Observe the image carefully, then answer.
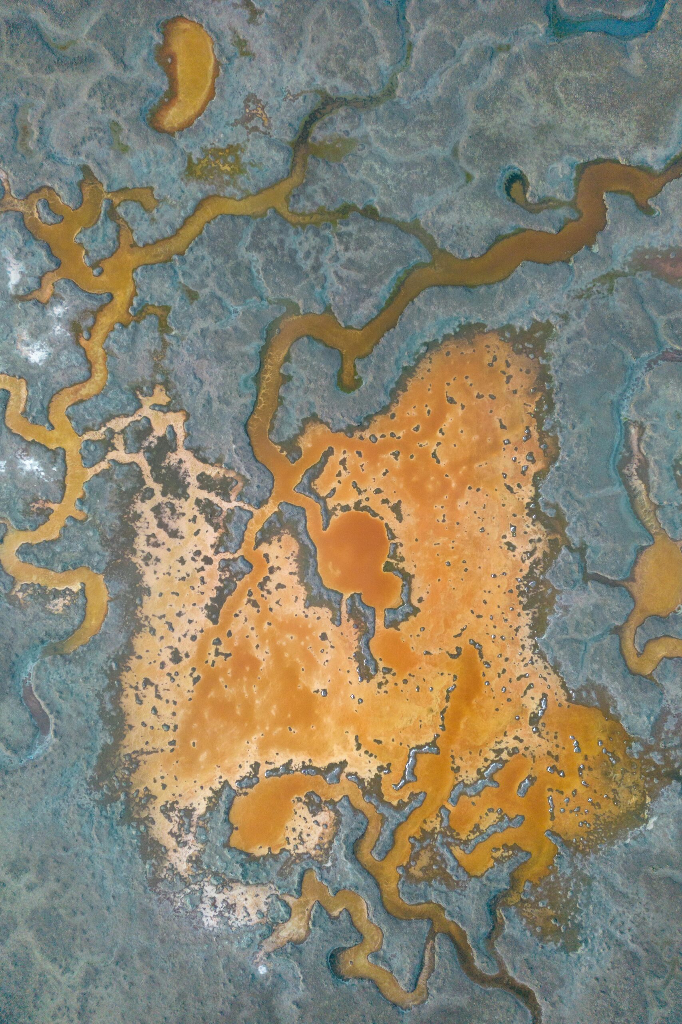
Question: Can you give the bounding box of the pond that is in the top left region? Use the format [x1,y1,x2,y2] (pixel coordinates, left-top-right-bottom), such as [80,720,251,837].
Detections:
[146,15,221,135]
